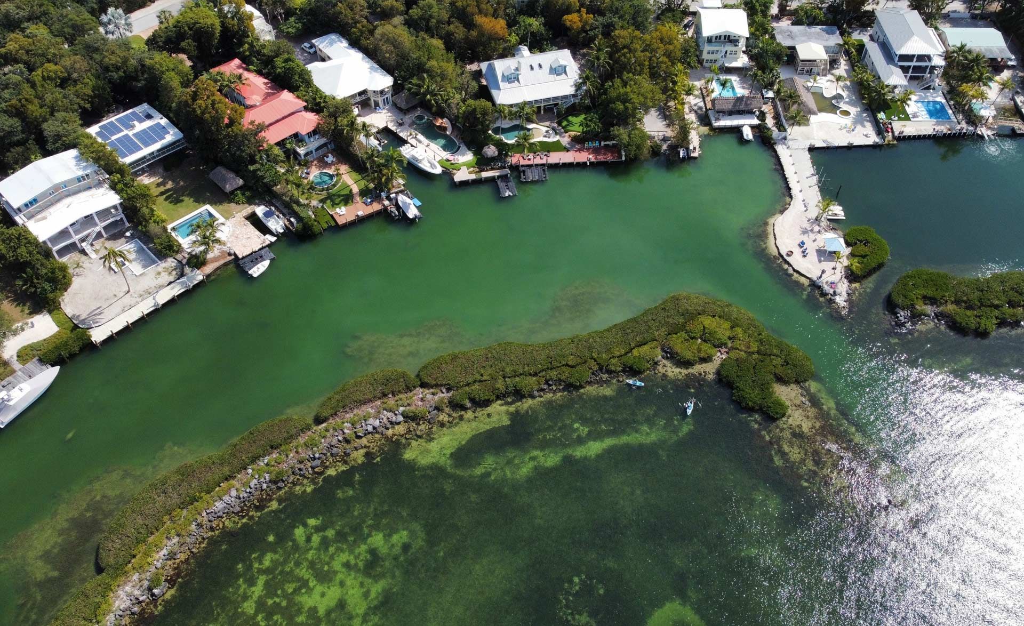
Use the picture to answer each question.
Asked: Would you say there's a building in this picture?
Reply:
Yes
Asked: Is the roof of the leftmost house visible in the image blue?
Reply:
No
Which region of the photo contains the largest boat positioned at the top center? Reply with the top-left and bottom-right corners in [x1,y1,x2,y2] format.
[395,144,442,176]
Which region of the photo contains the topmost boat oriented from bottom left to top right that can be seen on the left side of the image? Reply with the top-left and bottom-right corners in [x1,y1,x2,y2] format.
[249,259,270,277]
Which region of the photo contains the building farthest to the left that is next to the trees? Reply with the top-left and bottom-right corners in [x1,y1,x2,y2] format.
[0,146,130,262]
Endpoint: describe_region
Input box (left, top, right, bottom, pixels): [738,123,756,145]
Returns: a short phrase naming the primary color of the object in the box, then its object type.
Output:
white boat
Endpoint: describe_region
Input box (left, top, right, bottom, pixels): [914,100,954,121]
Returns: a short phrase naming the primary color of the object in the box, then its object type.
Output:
blue swimming pool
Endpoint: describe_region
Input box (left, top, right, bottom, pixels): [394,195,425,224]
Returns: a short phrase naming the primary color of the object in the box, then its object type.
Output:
white boat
